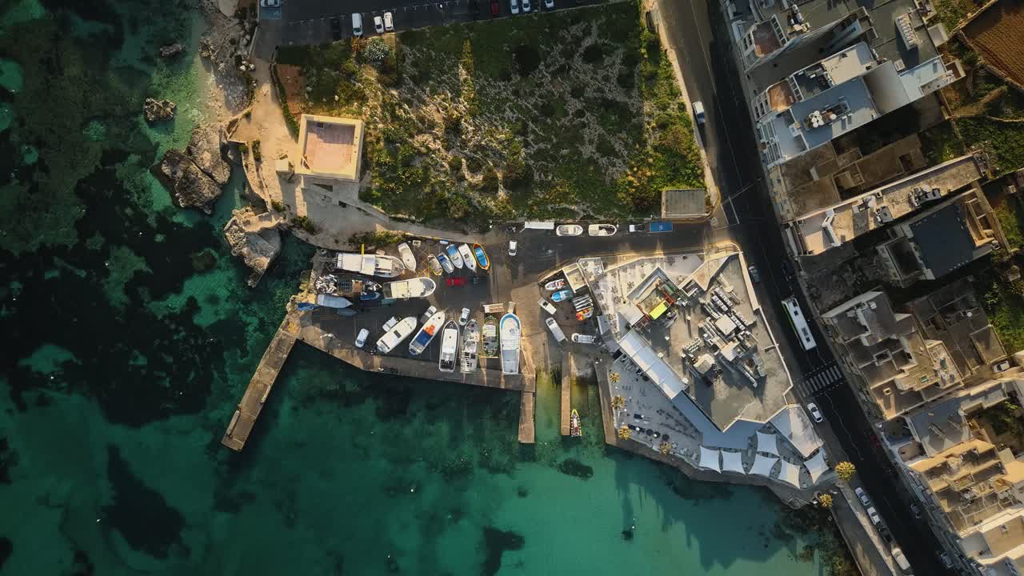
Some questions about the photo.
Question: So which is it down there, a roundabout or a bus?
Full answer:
The image shows a bus.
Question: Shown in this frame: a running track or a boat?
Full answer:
The image shows a boat.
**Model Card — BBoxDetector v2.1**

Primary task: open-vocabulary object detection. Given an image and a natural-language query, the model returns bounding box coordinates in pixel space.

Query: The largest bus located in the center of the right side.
[779,295,815,350]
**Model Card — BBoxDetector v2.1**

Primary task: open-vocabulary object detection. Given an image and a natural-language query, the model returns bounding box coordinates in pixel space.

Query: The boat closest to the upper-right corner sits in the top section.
[588,223,617,235]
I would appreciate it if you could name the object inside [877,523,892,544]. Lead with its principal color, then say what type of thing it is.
black car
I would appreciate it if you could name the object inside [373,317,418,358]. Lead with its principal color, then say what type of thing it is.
white boat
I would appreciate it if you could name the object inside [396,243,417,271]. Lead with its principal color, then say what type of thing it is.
white boat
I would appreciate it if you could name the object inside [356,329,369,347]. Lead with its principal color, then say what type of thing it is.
white vehicle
